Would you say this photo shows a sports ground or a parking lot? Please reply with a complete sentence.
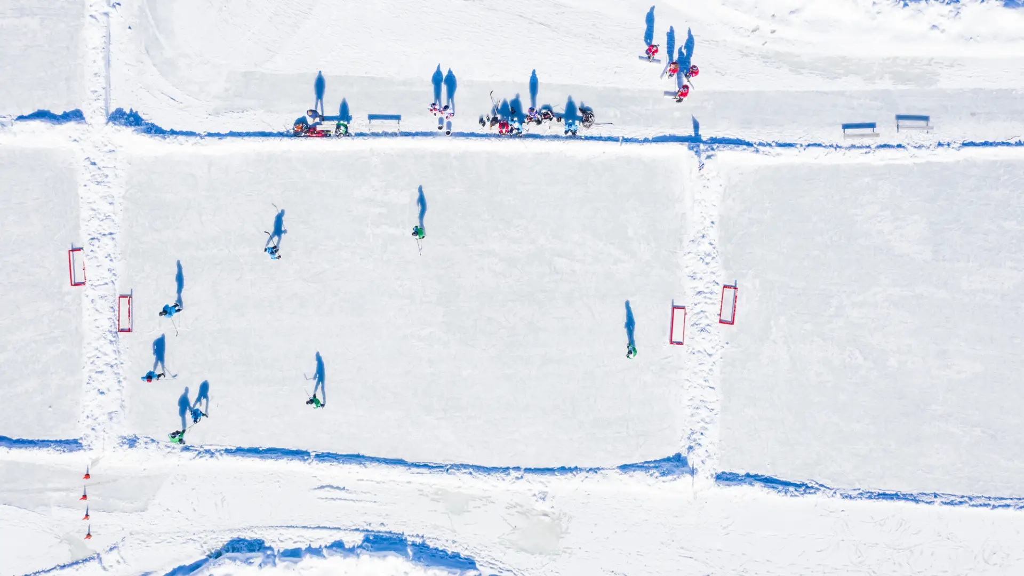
It's a sports ground.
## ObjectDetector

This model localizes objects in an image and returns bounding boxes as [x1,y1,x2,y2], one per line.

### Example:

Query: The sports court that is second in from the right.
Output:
[116,152,695,468]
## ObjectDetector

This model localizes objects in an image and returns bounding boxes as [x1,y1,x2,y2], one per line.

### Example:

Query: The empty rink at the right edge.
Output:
[716,159,1024,500]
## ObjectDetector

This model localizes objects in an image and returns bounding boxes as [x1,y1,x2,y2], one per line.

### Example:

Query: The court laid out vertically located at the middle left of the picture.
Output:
[0,146,85,443]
